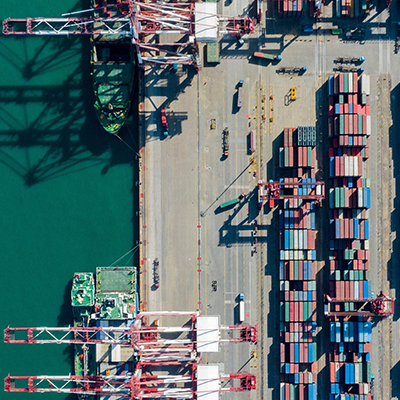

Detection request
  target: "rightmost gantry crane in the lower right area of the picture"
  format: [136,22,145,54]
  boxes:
[322,293,396,319]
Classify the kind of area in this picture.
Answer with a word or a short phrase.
port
